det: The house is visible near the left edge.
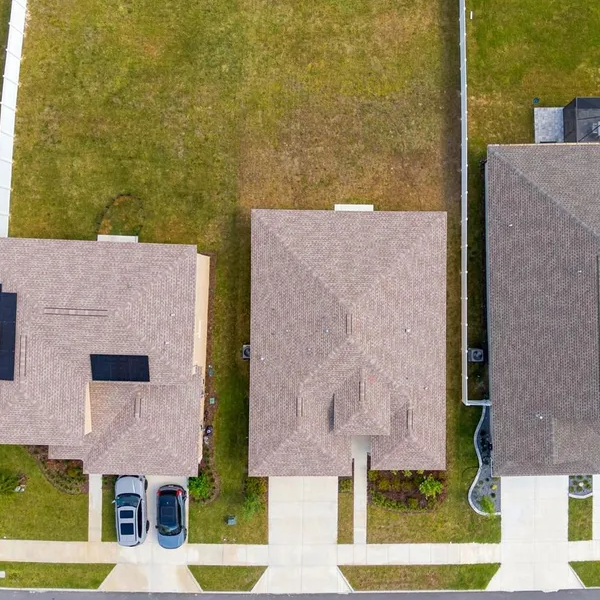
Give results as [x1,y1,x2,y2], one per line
[0,238,213,478]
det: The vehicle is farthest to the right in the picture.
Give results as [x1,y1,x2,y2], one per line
[152,483,187,548]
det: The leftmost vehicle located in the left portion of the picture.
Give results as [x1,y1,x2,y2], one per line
[112,474,152,547]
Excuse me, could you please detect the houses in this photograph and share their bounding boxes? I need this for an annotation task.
[485,142,600,478]
[0,238,213,478]
[248,209,449,478]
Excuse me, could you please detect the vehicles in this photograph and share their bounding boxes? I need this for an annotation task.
[112,474,152,547]
[152,483,187,548]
